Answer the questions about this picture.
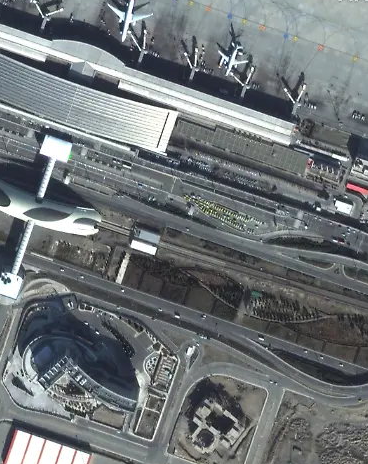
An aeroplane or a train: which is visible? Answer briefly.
aeroplane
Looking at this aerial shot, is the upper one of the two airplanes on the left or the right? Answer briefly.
left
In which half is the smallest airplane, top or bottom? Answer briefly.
top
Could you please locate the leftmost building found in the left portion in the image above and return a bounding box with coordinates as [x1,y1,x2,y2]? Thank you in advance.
[0,265,24,300]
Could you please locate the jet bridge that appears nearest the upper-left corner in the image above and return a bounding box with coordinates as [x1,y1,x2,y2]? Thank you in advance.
[33,0,65,30]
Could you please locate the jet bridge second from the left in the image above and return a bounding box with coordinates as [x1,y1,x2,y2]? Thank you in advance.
[127,28,148,61]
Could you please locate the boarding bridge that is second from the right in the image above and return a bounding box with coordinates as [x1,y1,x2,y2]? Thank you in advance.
[229,64,254,97]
